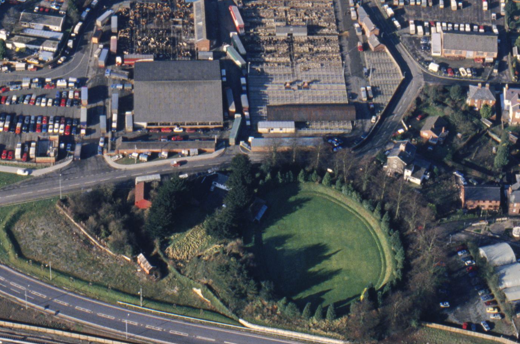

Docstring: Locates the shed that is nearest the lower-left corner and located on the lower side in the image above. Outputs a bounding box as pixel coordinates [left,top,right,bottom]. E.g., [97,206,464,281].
[137,251,160,273]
